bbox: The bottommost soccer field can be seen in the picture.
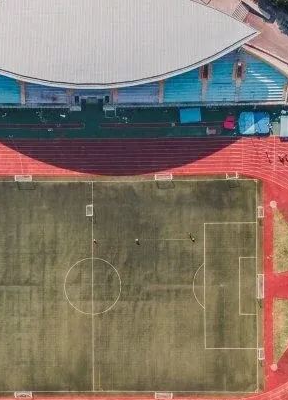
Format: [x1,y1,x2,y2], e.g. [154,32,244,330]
[0,175,264,399]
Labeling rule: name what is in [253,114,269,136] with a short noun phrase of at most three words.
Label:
tent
